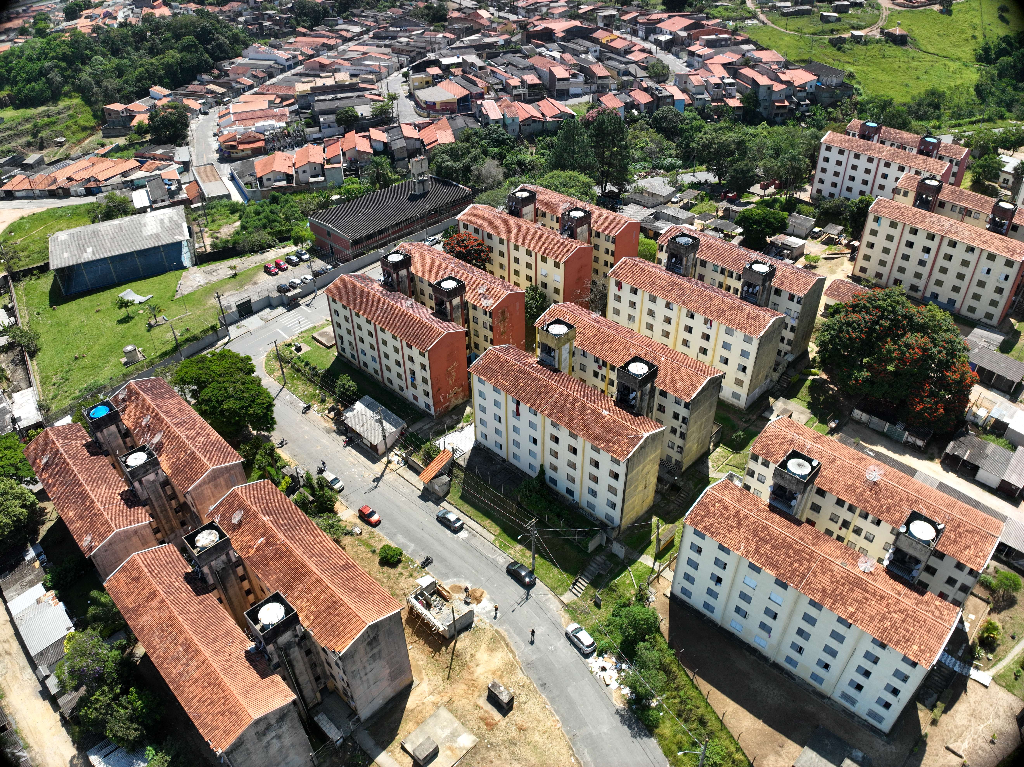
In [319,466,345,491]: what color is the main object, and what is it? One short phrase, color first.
white car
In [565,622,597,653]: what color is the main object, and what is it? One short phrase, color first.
white car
